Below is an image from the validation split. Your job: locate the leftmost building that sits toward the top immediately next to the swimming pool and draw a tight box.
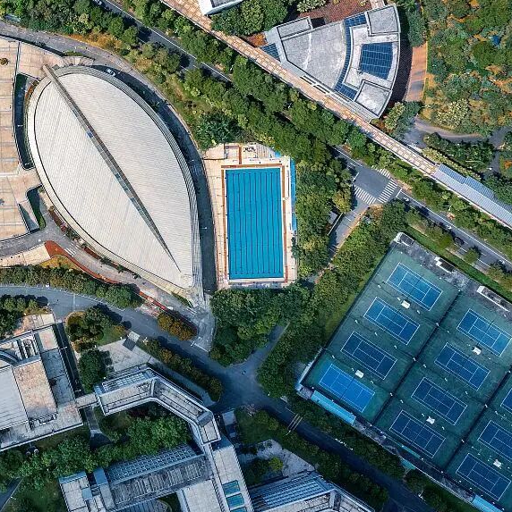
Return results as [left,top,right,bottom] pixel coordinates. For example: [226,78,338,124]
[27,64,202,304]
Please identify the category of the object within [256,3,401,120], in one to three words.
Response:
building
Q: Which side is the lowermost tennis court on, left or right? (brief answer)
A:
right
